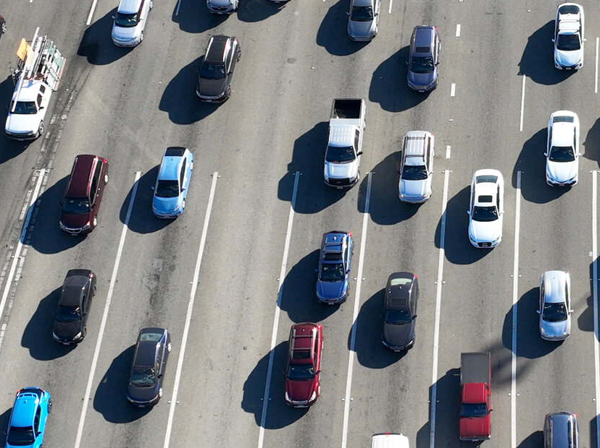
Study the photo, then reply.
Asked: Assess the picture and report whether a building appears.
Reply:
No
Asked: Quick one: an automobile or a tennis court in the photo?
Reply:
automobile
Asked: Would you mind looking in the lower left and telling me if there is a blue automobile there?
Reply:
Yes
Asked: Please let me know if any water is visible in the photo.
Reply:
No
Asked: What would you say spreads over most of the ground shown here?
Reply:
paved ground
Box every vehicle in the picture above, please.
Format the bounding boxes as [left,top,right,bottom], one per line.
[543,411,580,448]
[378,270,419,352]
[195,35,238,103]
[57,154,110,235]
[281,322,326,407]
[371,427,411,448]
[454,350,495,441]
[543,115,581,188]
[344,0,380,42]
[404,25,440,93]
[149,149,195,218]
[312,225,355,304]
[466,175,505,249]
[109,0,152,46]
[550,8,586,70]
[395,127,435,203]
[49,267,100,346]
[207,0,239,15]
[3,48,68,138]
[1,389,55,448]
[123,324,173,407]
[535,267,575,342]
[320,100,366,188]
